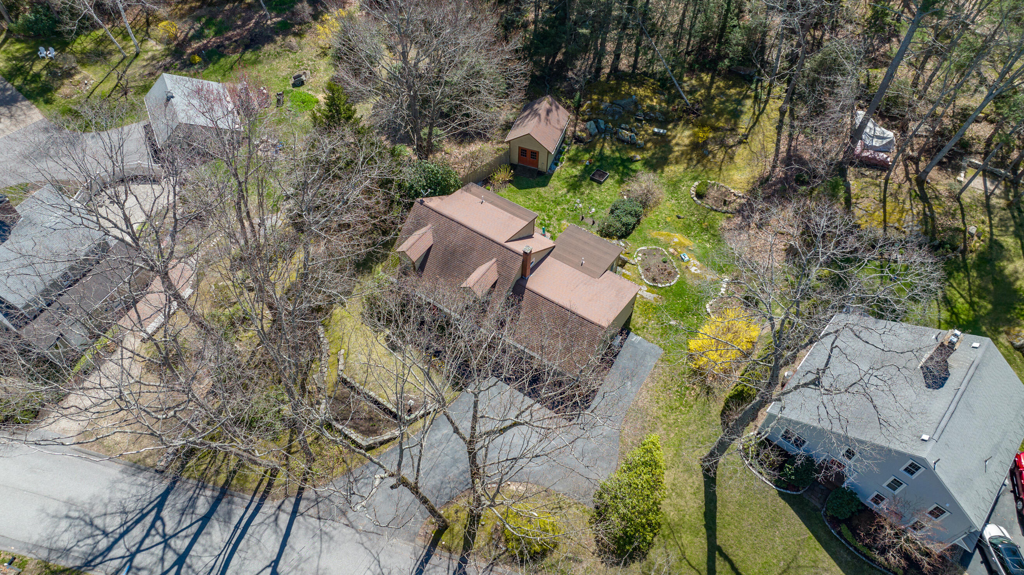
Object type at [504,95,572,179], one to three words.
shed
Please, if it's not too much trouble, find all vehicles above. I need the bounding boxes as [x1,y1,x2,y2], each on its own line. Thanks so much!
[1011,455,1024,512]
[980,524,1024,575]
